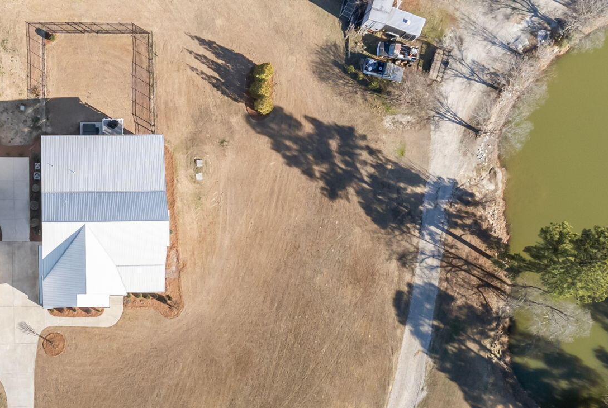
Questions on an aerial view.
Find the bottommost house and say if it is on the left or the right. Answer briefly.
left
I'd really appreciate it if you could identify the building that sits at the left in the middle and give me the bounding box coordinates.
[37,133,170,307]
